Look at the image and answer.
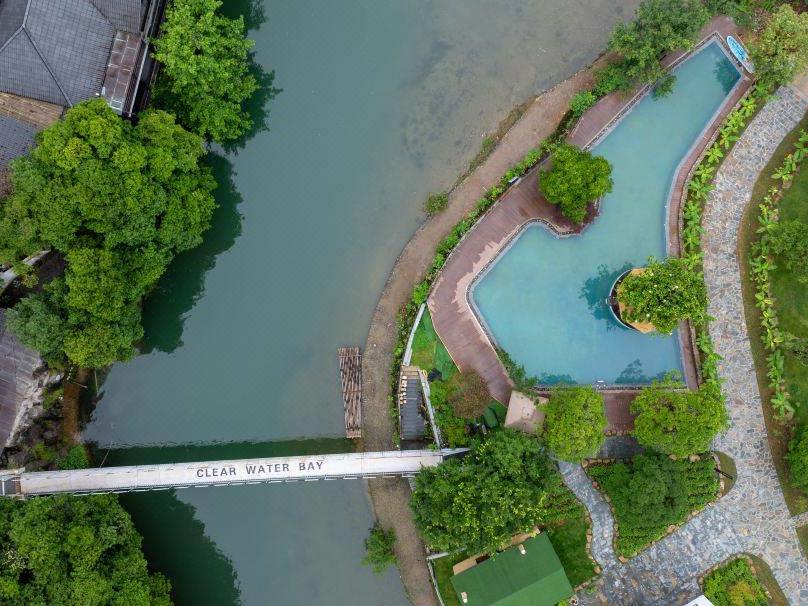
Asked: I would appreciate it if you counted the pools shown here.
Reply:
one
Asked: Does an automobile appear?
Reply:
No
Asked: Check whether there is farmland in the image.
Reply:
No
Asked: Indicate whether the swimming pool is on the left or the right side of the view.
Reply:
right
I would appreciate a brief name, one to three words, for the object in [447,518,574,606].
shed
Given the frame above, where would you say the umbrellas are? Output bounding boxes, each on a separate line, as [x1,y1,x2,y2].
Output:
[505,391,548,432]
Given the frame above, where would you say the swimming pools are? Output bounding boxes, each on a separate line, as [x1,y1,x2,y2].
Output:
[467,33,749,392]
